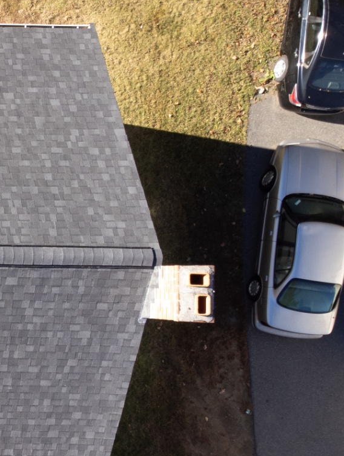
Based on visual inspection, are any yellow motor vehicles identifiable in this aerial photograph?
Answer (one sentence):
No, there isn't any yellow motor vehicle down there.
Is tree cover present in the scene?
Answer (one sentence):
No, there is no tree cover in the image.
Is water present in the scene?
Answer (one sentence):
No, there is no water in the image.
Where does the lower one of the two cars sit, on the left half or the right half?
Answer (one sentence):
The lower one of the two cars appears in the right half of the scene.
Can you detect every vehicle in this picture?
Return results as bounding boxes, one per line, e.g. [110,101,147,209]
[269,0,344,120]
[243,136,344,340]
